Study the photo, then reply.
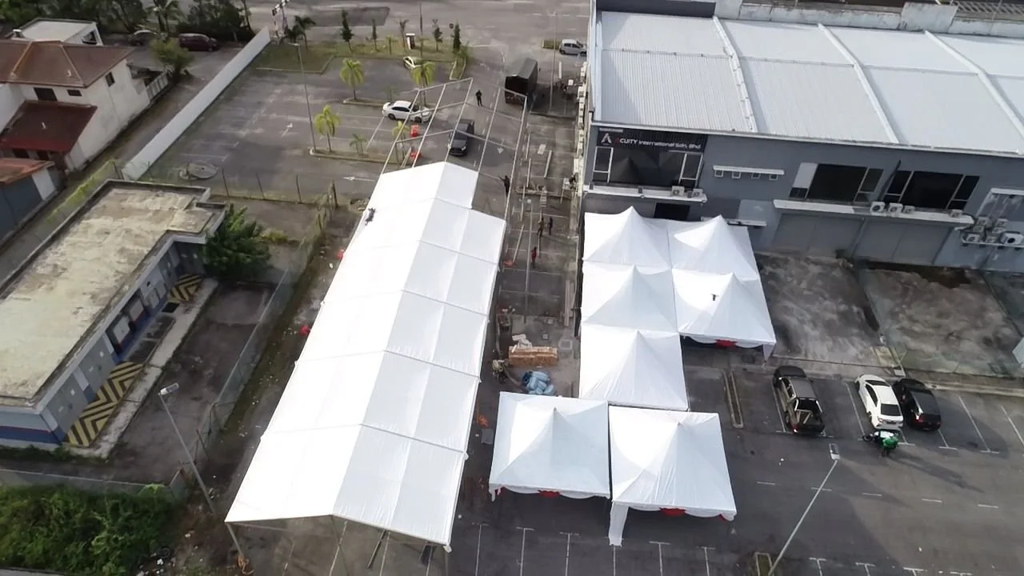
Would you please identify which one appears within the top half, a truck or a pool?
truck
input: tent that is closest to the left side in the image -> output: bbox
[217,76,526,576]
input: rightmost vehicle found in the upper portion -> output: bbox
[561,39,586,56]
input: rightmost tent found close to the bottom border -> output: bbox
[607,406,739,548]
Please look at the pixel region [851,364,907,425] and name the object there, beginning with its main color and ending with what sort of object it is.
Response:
white car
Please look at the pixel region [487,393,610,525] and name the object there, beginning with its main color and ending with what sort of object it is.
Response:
white tent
